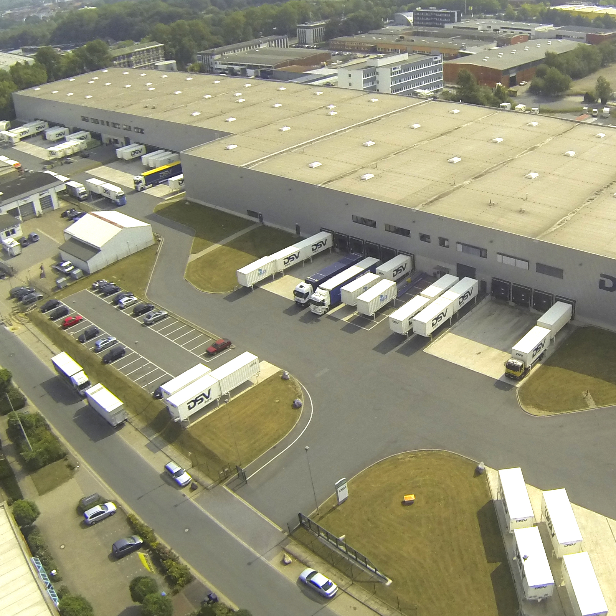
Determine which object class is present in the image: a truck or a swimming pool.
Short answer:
truck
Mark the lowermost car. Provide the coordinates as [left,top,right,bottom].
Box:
[296,569,341,599]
